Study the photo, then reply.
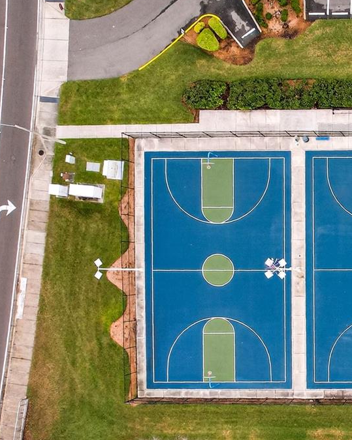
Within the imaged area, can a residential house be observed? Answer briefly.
No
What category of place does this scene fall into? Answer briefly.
sports ground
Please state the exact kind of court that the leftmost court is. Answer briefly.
basketball court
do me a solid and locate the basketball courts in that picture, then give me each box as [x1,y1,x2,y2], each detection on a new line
[144,151,293,390]
[305,150,352,389]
